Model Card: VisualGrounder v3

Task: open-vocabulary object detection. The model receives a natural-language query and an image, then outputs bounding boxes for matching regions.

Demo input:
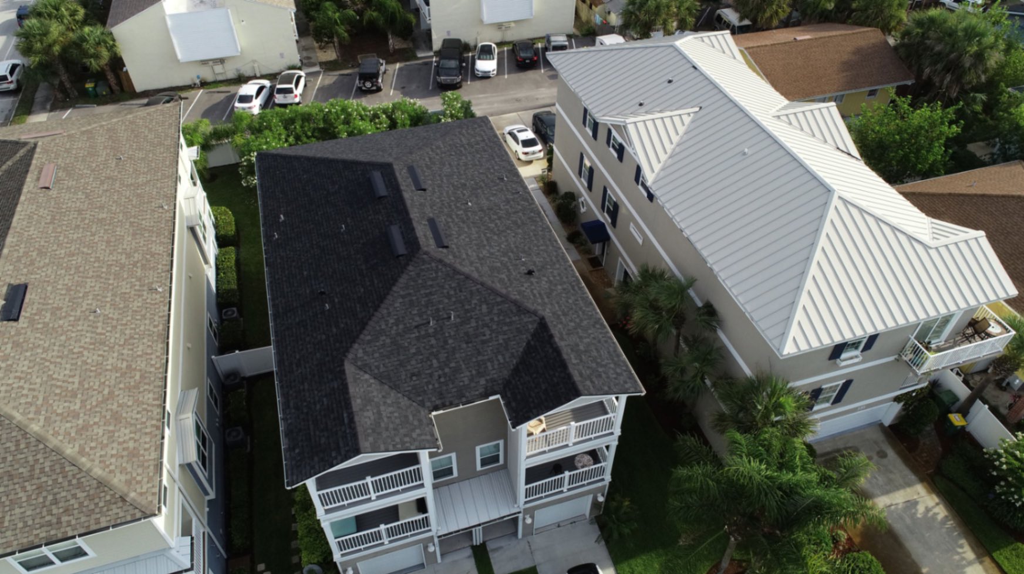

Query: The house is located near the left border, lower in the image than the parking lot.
[0,103,226,574]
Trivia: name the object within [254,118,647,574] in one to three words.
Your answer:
house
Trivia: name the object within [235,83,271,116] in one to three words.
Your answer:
car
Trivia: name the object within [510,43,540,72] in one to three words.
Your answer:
car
